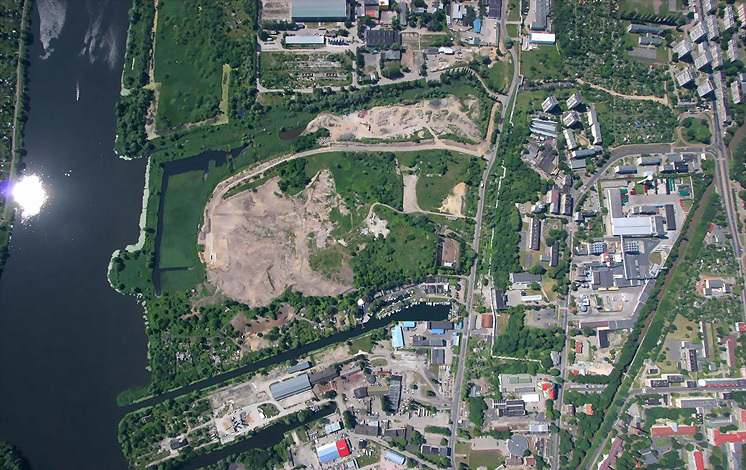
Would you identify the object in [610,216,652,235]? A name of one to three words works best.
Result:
building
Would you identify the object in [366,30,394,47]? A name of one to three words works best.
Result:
building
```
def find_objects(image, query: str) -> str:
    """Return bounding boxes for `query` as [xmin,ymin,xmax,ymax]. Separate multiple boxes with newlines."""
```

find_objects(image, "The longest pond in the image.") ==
[152,146,245,295]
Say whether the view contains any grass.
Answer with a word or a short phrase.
Yes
